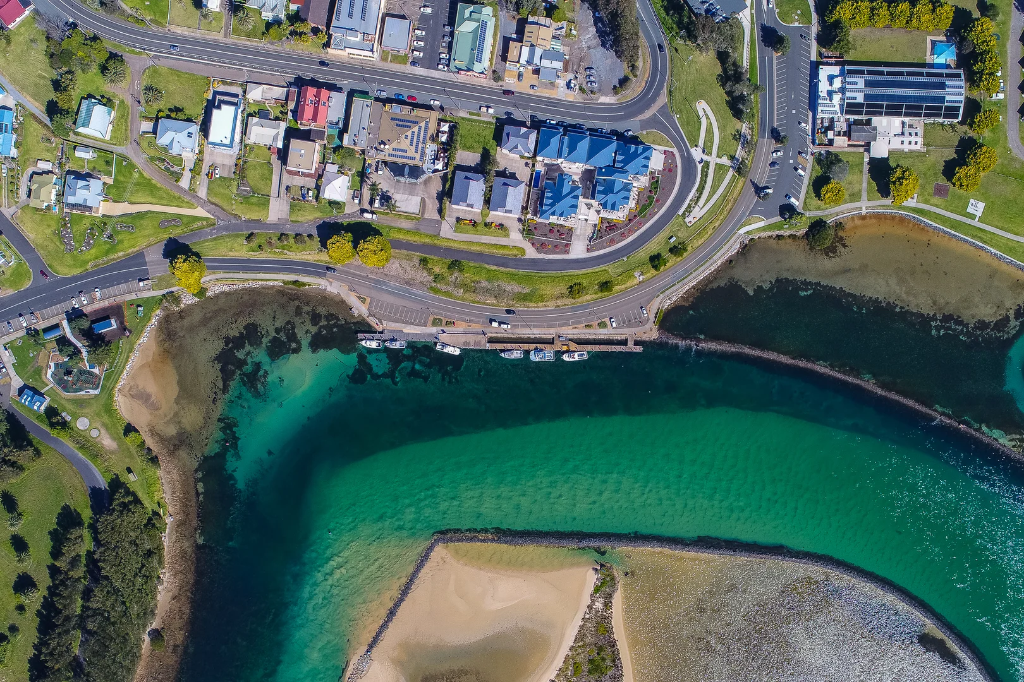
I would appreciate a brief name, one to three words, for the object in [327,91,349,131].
building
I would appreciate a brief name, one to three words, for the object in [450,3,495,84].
building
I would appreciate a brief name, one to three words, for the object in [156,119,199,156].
house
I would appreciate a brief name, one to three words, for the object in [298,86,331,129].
house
